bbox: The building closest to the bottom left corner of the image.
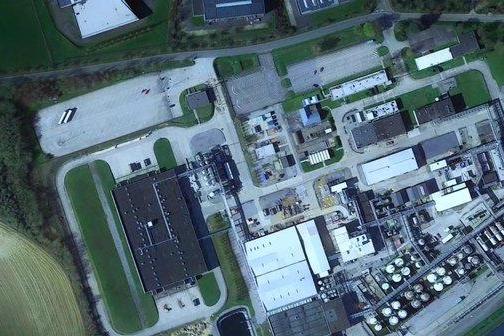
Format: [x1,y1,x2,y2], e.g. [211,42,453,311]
[111,168,207,296]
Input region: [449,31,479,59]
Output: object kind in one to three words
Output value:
building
